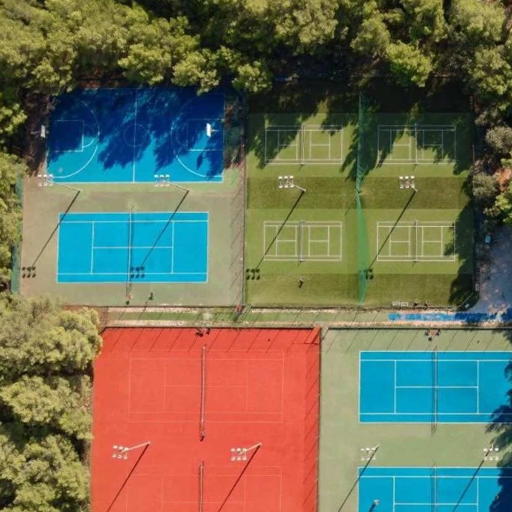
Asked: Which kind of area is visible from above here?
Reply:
sports ground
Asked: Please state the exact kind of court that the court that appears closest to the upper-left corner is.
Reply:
basketball court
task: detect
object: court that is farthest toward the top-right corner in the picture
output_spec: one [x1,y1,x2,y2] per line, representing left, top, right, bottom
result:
[378,126,456,163]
